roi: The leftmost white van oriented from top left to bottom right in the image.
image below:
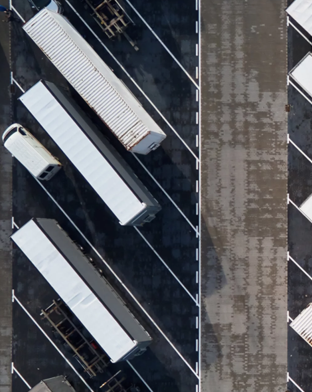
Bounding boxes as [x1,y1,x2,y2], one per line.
[7,125,63,177]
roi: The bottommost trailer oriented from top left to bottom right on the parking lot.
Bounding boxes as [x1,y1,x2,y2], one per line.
[10,218,154,362]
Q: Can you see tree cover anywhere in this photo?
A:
No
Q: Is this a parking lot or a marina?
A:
parking lot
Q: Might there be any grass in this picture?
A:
No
